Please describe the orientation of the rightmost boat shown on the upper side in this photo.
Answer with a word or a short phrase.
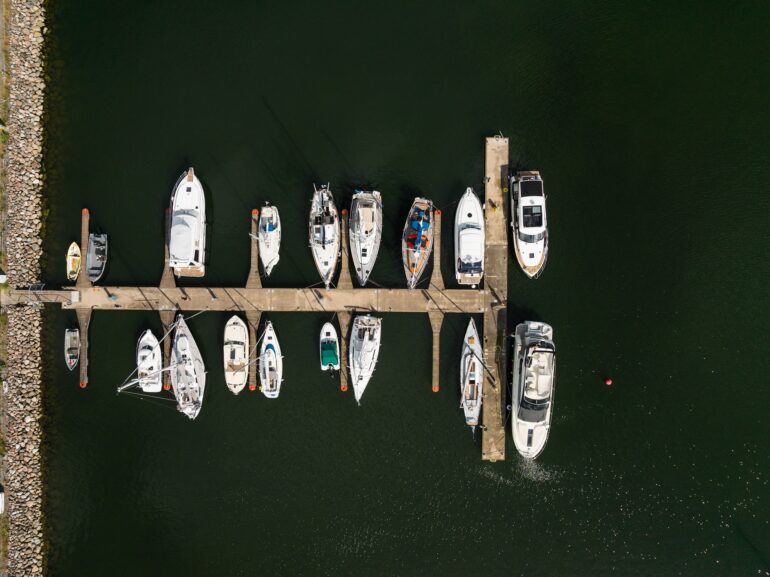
from top to bottom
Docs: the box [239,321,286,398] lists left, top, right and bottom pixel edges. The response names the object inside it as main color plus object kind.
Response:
white boat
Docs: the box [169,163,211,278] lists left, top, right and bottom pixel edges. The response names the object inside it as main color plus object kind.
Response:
white boat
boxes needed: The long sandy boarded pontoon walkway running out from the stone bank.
[64,287,482,312]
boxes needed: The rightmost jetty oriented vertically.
[482,131,509,463]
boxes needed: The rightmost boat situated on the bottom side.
[508,320,554,461]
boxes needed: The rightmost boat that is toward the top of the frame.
[506,171,550,280]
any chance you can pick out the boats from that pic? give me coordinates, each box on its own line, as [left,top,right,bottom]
[86,228,109,282]
[115,315,209,418]
[247,203,283,276]
[65,242,80,283]
[303,182,344,289]
[400,198,436,289]
[320,322,341,373]
[453,186,487,284]
[508,320,554,461]
[461,317,497,437]
[239,321,286,398]
[506,171,550,280]
[346,314,383,408]
[347,190,384,287]
[64,325,80,370]
[223,316,252,394]
[169,163,211,278]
